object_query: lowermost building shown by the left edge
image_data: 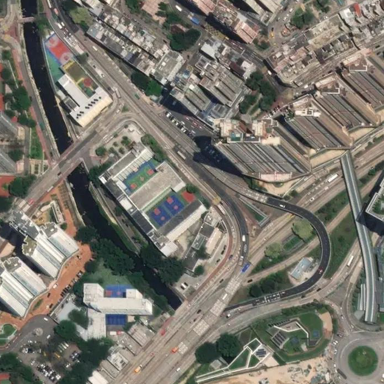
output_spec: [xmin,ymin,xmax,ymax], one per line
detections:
[0,258,45,311]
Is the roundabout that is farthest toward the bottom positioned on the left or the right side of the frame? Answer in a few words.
right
